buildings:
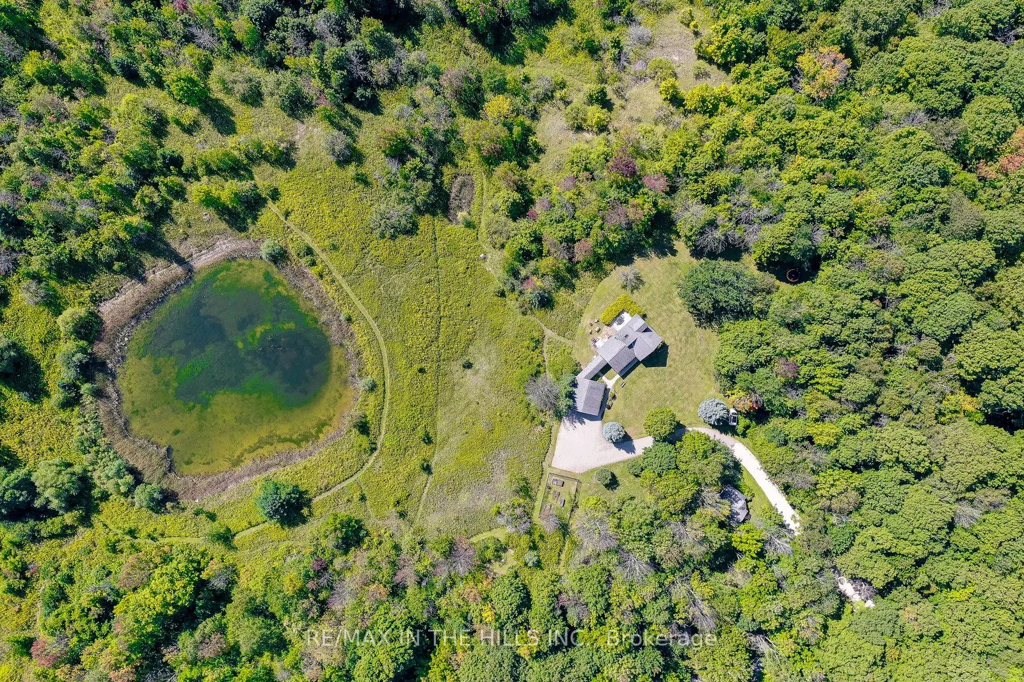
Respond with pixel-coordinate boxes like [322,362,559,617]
[714,486,748,524]
[577,314,662,381]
